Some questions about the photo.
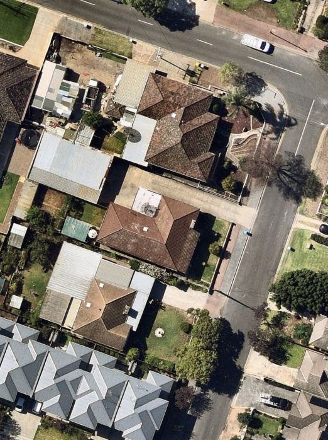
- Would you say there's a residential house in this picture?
Yes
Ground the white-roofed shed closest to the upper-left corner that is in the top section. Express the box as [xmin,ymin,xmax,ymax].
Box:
[31,60,78,117]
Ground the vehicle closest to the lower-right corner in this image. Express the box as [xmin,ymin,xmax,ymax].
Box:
[261,394,290,409]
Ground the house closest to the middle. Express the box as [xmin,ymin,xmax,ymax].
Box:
[96,188,201,274]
